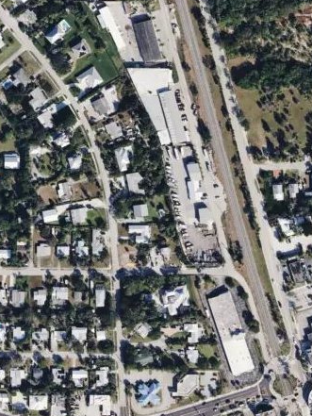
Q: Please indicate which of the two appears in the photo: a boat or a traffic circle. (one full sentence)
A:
There is a traffic circle in the scene.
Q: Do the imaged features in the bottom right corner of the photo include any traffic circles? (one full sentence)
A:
Yes, the scene does show a traffic circle in the bottom right corner of the photo.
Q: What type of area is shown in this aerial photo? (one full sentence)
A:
What you see here is a residential area.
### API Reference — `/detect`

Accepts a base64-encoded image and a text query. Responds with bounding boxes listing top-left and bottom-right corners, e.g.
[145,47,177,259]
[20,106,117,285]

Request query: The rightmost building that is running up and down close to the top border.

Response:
[133,19,160,63]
